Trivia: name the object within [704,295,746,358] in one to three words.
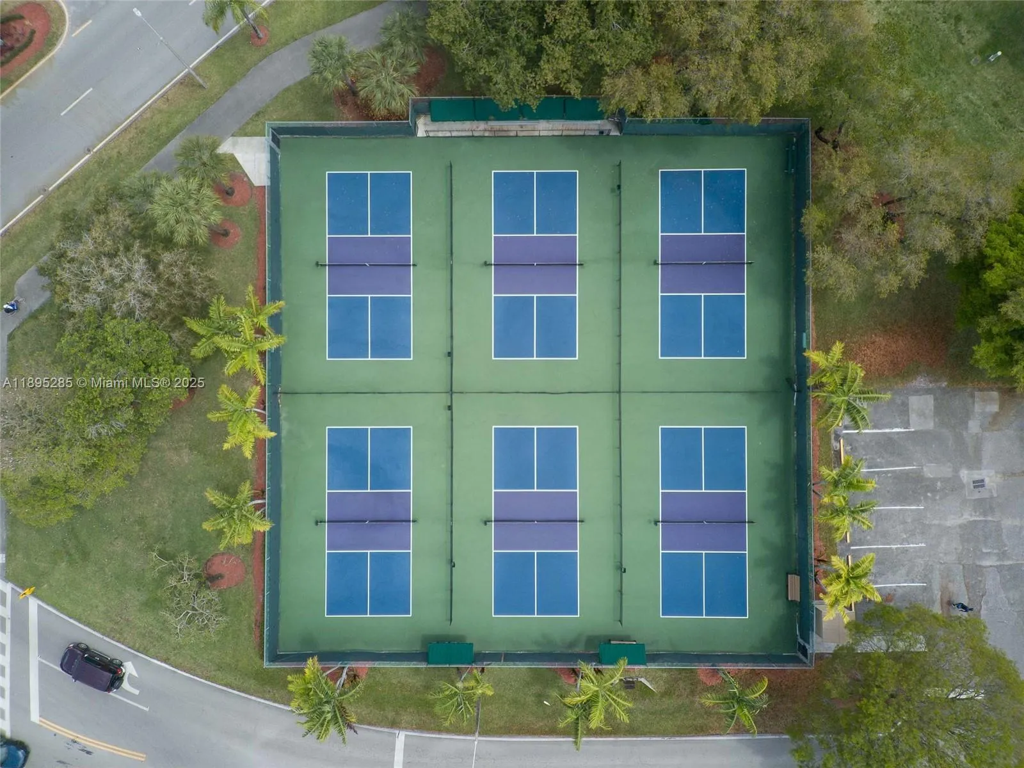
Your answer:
sports court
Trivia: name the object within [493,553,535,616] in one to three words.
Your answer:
sports court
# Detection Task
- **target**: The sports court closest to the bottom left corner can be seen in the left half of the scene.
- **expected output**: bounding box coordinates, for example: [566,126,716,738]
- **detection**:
[326,552,368,615]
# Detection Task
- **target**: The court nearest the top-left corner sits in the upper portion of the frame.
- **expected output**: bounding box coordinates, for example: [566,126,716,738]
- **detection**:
[327,172,368,234]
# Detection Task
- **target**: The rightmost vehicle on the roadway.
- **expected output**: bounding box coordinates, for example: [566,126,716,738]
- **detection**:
[57,646,127,696]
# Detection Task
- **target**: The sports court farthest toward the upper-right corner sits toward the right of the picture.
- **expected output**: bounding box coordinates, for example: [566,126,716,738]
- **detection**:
[703,170,745,232]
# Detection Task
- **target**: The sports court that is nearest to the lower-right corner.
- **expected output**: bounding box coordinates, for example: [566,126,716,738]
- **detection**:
[705,554,747,617]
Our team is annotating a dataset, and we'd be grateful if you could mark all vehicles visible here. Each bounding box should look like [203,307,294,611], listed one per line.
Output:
[0,739,29,768]
[57,646,127,696]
